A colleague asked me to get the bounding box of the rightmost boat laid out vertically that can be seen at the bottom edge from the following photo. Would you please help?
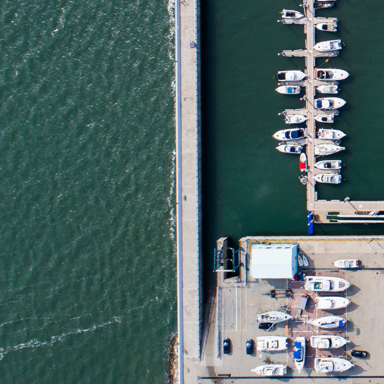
[293,335,307,375]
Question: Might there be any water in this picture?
Yes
